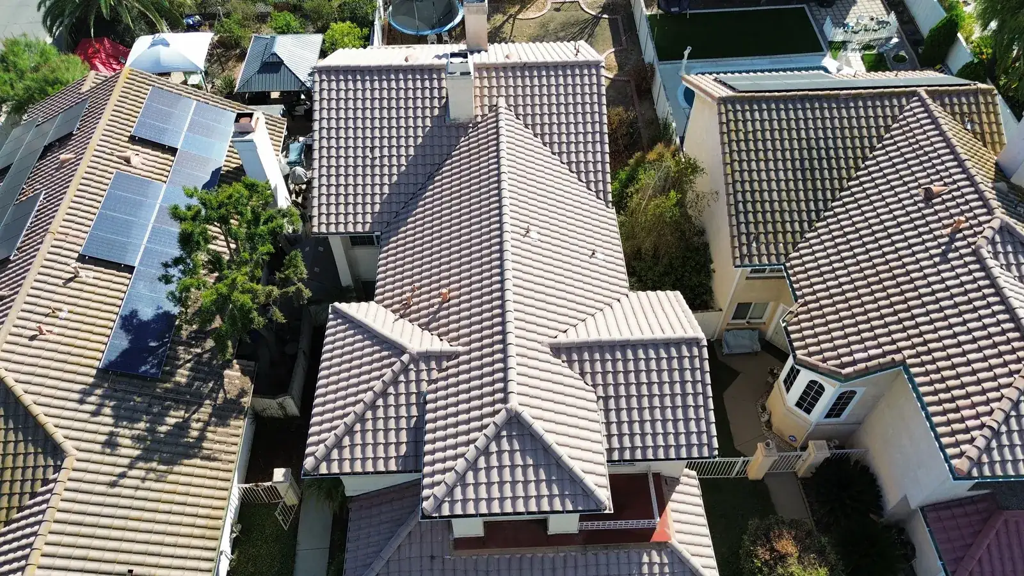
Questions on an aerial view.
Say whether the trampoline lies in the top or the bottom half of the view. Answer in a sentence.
You can find the trampoline in the top half.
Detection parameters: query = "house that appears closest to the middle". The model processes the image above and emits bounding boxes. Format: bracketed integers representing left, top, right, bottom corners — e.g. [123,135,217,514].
[301,0,719,576]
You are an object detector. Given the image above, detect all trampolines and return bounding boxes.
[389,0,465,43]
